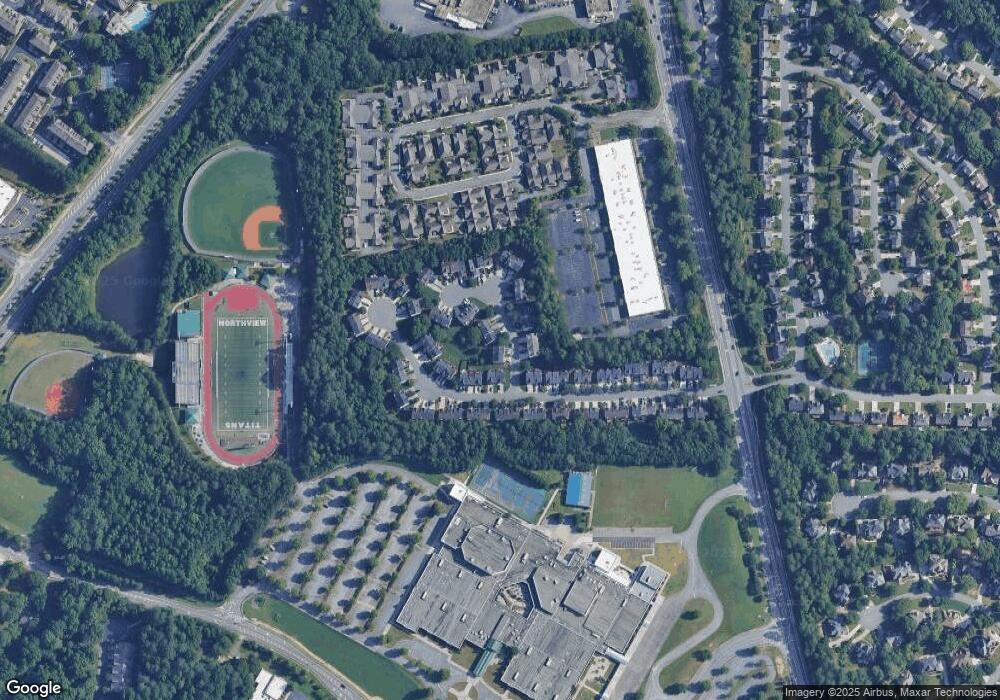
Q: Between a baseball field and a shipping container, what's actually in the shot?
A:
baseball field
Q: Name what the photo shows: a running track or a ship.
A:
running track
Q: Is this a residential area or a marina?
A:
residential area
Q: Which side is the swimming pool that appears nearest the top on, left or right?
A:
left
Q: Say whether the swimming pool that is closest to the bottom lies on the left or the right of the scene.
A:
right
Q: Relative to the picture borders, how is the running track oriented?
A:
from top to bottom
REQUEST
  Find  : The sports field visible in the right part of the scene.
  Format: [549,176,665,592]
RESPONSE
[592,466,731,527]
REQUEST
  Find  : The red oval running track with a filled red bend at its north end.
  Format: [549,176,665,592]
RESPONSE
[203,284,283,468]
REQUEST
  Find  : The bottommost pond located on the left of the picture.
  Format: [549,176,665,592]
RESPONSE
[96,210,173,340]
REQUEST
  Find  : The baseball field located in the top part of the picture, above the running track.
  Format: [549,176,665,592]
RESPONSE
[183,145,298,259]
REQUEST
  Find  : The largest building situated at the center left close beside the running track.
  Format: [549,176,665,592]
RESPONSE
[178,309,201,336]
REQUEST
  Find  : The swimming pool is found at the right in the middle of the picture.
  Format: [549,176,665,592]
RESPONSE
[815,338,840,365]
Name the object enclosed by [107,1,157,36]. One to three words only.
swimming pool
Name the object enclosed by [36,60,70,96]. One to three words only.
building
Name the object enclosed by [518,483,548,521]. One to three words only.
tennis court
